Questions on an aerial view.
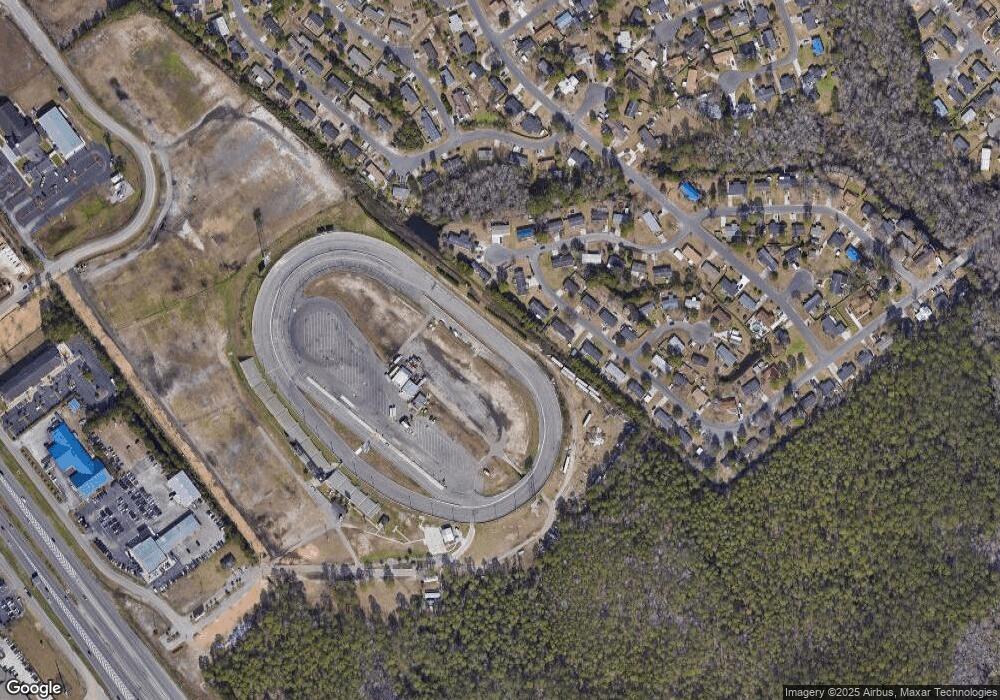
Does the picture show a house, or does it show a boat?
house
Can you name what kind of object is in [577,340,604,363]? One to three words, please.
house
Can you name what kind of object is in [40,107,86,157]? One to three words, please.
building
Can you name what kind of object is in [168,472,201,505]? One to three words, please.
building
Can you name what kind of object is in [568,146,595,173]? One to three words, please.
house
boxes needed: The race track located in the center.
[251,231,562,522]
